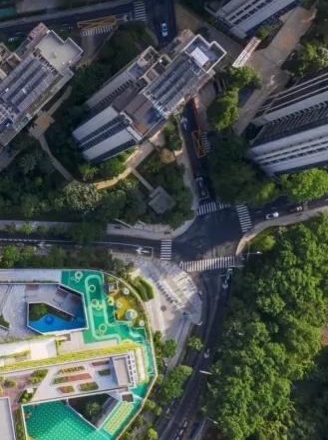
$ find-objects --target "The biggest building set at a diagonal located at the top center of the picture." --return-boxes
[67,30,227,165]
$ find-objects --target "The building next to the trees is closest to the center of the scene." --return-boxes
[145,186,175,214]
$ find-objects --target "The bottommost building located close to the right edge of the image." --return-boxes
[251,63,328,173]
